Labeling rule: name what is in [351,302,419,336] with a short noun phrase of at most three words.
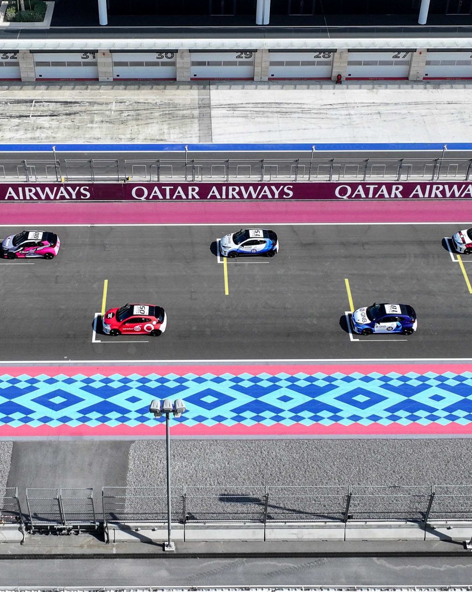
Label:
car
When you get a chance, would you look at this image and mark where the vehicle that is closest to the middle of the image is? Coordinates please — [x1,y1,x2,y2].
[221,229,279,258]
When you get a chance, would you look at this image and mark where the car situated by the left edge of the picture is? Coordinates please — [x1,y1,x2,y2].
[0,230,59,260]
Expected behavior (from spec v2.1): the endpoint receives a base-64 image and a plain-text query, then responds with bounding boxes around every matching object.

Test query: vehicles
[0,230,59,260]
[453,229,472,255]
[101,303,166,337]
[221,229,279,258]
[351,302,419,336]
